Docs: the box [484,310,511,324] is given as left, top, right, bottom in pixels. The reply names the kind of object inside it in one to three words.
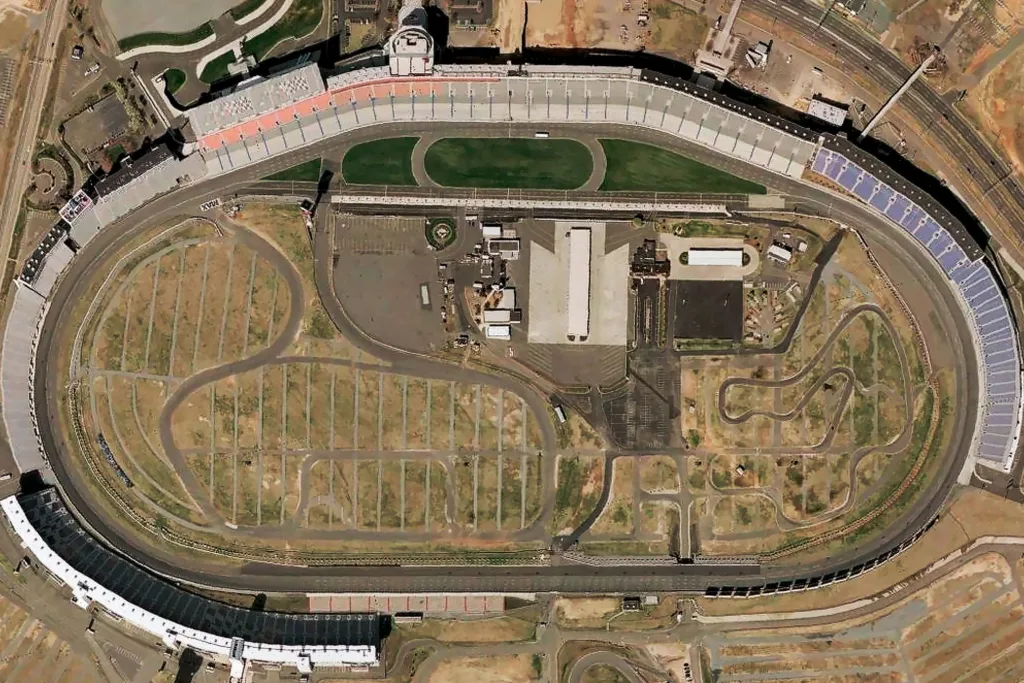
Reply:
building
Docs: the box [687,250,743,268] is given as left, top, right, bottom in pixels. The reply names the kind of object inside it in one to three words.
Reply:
building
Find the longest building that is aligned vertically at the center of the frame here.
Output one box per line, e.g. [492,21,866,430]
[566,227,590,341]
